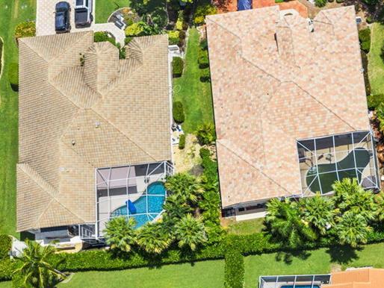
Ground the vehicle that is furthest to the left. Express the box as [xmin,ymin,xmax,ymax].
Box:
[50,0,75,34]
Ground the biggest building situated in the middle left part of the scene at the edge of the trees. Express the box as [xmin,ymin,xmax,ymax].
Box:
[16,30,176,232]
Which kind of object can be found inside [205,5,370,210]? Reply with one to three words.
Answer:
house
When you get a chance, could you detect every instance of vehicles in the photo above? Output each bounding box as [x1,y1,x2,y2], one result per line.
[72,0,97,31]
[236,0,256,10]
[50,0,75,34]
